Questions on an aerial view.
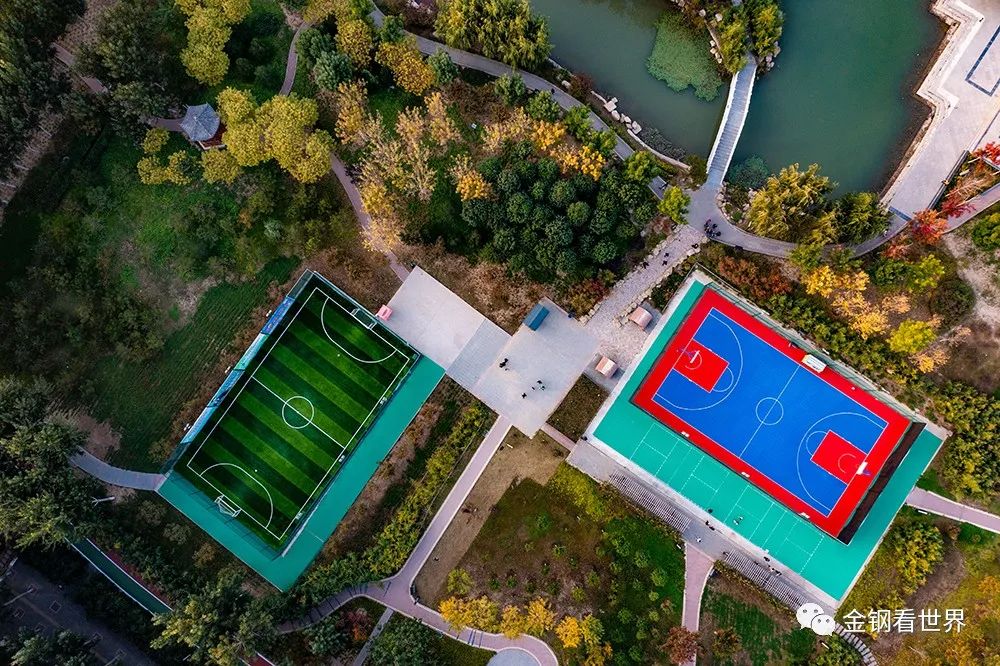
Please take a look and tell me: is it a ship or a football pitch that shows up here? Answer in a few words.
football pitch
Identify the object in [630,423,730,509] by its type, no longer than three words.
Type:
sports court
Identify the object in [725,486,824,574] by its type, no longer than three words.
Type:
sports court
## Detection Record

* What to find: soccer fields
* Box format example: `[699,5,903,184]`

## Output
[155,273,445,593]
